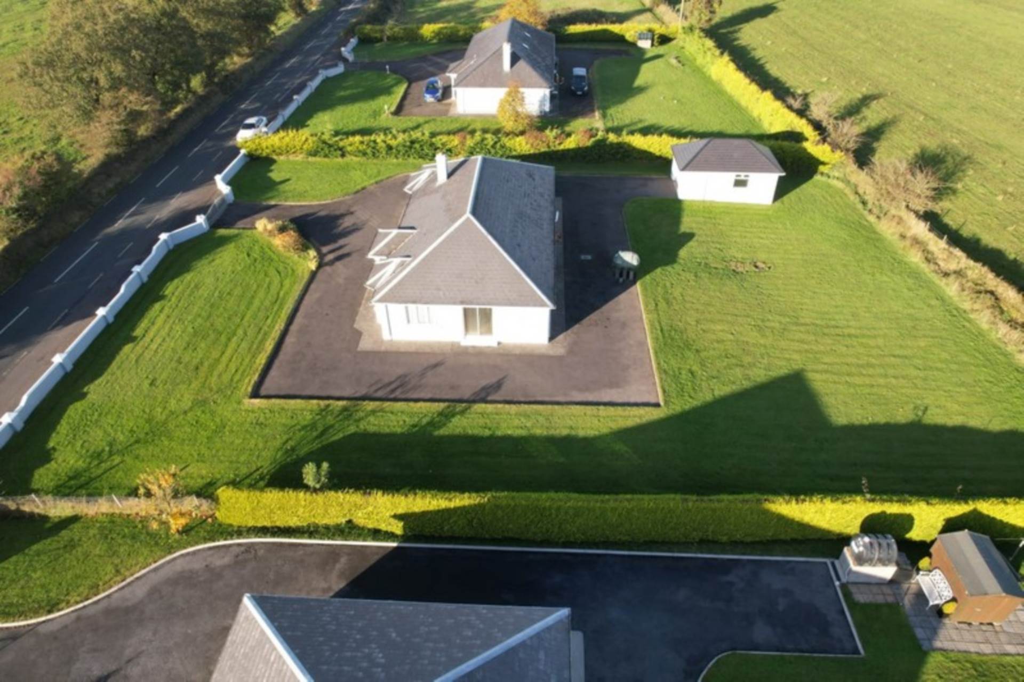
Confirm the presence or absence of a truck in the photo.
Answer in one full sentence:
No, I find no truck anywhere in the image.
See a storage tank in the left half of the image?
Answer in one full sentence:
No, looking in the left half of the image, there is no storage tank.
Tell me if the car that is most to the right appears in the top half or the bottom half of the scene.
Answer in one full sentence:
The top half of the photo is where the car that is most to the right is.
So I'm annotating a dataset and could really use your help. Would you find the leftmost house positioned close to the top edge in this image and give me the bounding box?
[443,18,554,111]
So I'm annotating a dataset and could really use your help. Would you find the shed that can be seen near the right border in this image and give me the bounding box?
[920,531,1024,627]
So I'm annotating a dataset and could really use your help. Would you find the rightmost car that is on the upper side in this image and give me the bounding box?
[568,68,588,92]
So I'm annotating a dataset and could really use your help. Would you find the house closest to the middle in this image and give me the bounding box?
[365,149,556,342]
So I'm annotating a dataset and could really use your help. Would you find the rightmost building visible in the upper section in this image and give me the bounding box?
[667,139,786,201]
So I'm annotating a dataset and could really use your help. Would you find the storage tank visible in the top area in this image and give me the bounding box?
[613,248,641,282]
